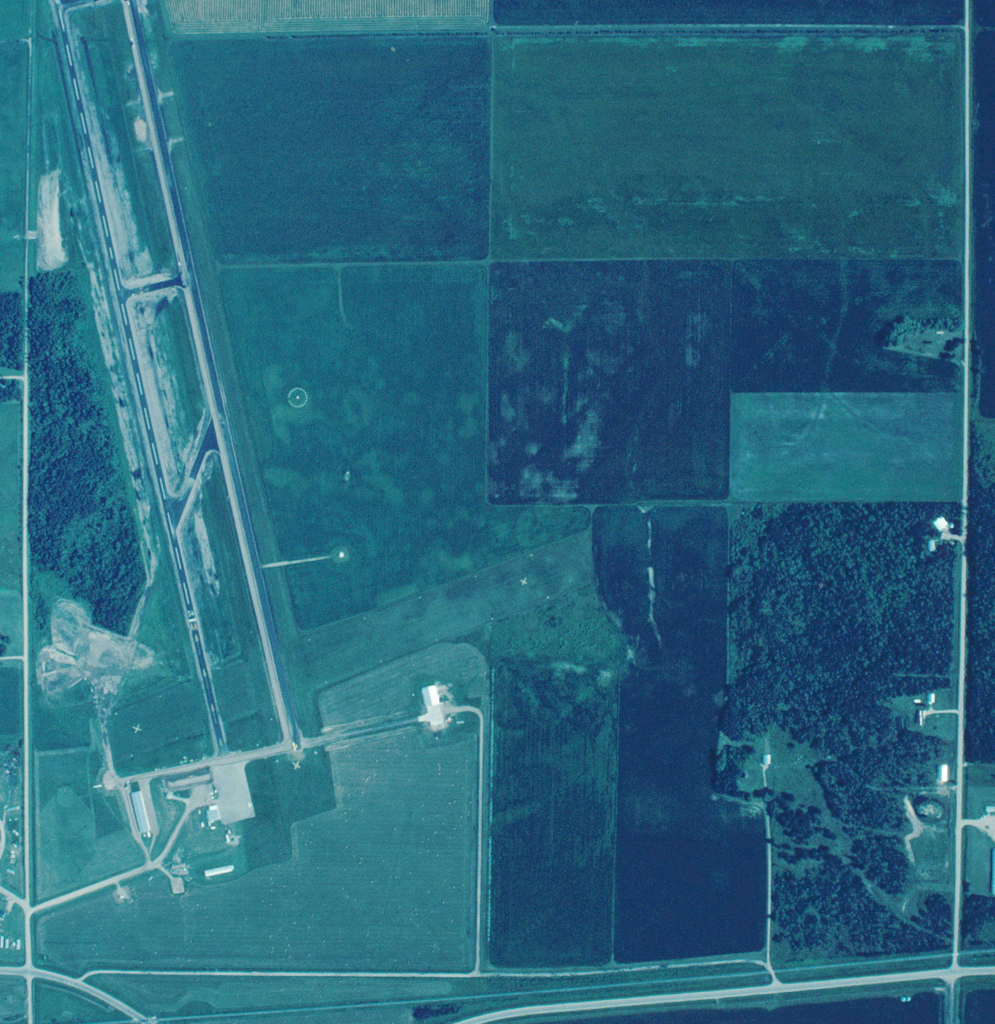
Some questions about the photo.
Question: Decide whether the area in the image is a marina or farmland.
farmland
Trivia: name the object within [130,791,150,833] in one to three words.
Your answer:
hangar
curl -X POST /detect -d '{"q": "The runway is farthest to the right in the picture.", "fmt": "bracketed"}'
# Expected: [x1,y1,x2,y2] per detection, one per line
[294,527,598,732]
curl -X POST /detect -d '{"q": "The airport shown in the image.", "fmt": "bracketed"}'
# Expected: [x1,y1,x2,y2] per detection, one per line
[50,0,443,894]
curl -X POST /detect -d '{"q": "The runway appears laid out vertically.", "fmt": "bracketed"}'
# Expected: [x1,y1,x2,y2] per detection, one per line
[53,0,225,755]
